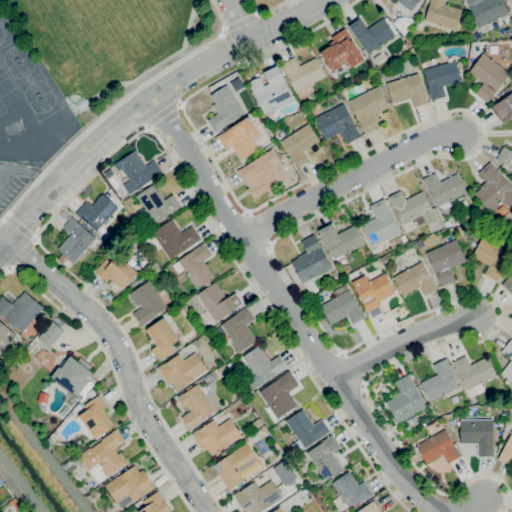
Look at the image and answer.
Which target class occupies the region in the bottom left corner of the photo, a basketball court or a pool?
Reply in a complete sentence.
Visible in the bottom left corner of the photo is a pool.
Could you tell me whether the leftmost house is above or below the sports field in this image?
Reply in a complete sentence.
In the image, the leftmost house sits below the sports field.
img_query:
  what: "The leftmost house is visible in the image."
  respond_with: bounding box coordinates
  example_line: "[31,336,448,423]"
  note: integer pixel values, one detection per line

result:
[0,293,44,333]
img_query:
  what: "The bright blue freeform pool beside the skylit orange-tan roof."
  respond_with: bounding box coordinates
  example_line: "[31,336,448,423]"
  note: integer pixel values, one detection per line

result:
[62,420,81,440]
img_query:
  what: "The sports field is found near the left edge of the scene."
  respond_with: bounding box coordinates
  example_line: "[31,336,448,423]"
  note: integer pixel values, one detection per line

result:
[10,0,190,99]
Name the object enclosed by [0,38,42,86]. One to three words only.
basketball court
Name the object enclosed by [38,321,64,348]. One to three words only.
building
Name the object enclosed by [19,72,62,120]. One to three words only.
basketball court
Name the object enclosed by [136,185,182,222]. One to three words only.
house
